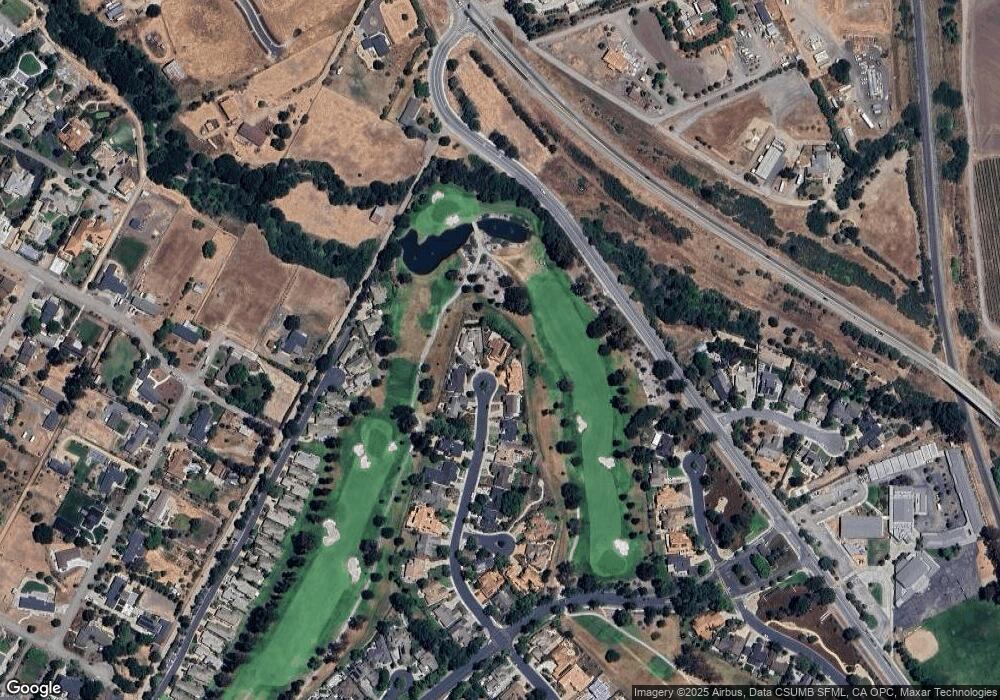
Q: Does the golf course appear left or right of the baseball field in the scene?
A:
to its left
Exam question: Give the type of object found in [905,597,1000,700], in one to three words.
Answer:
baseball field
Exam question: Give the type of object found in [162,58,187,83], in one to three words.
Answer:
barn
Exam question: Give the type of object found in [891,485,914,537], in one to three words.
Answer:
building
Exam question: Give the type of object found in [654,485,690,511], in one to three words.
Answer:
house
